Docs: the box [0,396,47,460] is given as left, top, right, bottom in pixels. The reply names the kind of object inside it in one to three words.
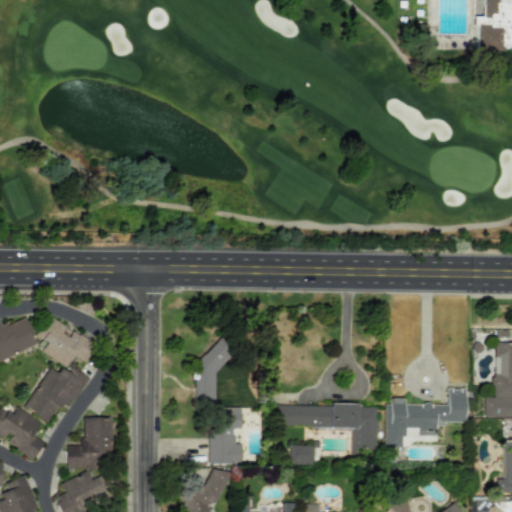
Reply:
house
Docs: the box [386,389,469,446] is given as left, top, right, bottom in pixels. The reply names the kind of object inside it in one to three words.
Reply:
house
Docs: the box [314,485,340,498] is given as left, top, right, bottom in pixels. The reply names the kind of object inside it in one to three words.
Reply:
swimming pool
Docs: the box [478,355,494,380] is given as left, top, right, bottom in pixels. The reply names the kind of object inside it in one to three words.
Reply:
swimming pool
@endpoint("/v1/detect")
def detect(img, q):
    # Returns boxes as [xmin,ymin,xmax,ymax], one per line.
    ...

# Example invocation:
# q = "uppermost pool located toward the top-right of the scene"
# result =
[439,0,467,35]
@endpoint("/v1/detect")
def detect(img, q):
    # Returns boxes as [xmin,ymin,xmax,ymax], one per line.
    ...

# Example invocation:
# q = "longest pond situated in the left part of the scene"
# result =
[40,80,246,180]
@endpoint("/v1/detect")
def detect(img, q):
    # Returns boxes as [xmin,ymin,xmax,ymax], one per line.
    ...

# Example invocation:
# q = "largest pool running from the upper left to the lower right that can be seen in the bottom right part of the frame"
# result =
[422,483,447,502]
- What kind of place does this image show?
golf course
